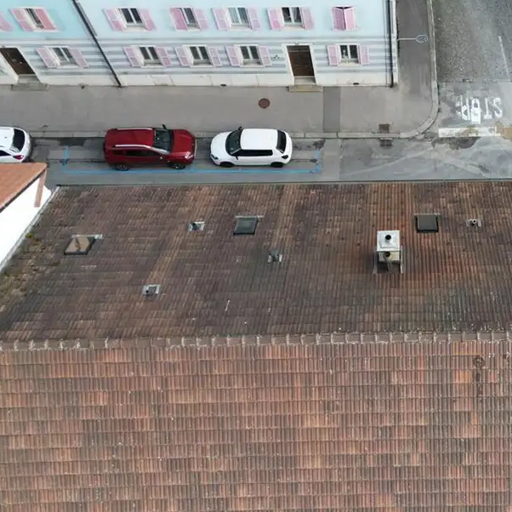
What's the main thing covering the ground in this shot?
buildings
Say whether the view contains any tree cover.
No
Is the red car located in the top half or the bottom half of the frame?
top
